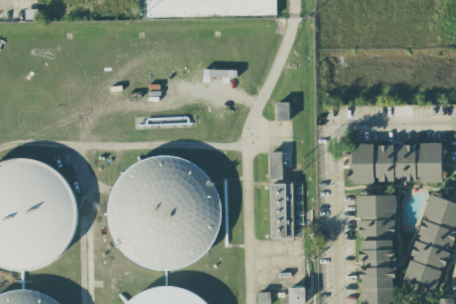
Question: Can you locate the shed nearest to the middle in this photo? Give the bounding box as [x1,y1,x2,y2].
[270,152,284,180]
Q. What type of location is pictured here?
industrial area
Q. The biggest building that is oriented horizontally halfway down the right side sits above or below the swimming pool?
above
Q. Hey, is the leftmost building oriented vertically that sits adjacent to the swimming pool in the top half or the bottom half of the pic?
bottom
